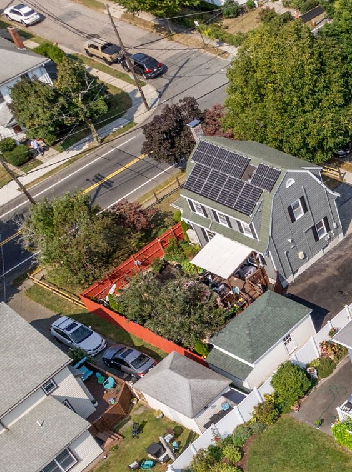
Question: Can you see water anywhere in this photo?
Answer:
No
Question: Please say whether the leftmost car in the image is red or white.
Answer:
white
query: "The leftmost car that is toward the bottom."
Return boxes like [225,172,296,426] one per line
[47,313,108,356]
